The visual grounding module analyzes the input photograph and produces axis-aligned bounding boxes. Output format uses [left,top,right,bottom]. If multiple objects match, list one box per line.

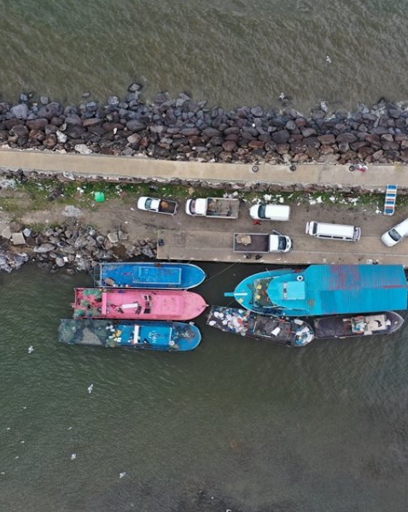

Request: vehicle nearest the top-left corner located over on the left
[137,195,178,215]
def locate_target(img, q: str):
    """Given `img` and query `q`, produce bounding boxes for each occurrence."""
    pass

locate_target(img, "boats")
[206,306,315,346]
[224,264,408,315]
[74,289,210,321]
[93,263,206,289]
[59,319,202,352]
[313,311,405,339]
